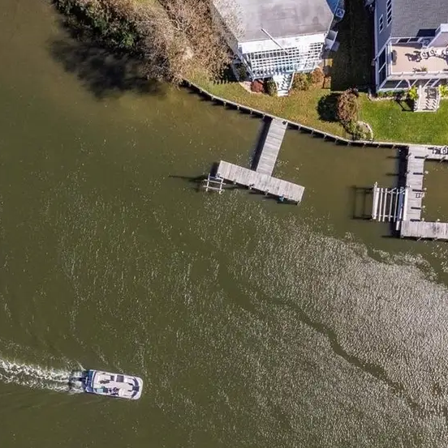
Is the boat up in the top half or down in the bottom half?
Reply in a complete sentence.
Seen from above, the boat lies in the bottom half of the view.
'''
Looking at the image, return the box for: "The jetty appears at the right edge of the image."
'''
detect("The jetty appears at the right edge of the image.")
[398,146,448,242]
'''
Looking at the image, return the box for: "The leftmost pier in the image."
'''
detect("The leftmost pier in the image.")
[216,118,304,206]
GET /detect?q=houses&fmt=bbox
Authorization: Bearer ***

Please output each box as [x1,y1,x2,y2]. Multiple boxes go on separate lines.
[375,0,448,110]
[214,0,340,104]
